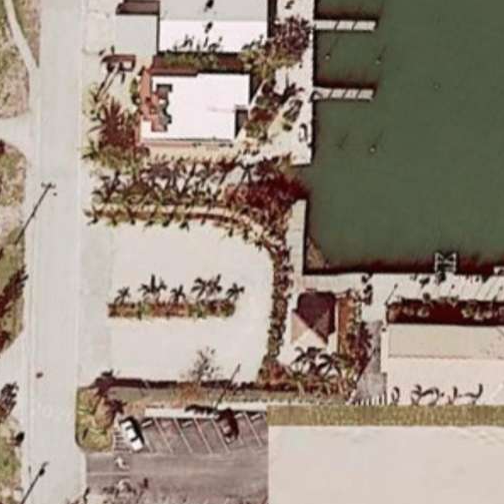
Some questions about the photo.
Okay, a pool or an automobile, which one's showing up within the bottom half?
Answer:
automobile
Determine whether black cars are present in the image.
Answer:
No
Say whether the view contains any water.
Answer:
Yes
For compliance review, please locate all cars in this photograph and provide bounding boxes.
[120,420,144,451]
[220,412,239,440]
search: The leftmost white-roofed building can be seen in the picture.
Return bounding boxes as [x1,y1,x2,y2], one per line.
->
[114,15,157,55]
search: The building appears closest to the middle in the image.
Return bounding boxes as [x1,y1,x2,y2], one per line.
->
[291,309,327,345]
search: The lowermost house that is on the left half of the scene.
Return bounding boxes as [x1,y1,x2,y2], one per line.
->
[140,70,250,148]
